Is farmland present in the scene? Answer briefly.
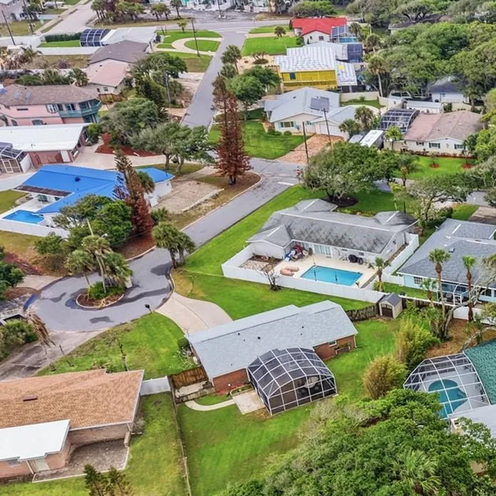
No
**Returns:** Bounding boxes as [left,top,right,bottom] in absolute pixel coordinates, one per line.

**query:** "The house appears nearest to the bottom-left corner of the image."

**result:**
[0,371,140,477]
